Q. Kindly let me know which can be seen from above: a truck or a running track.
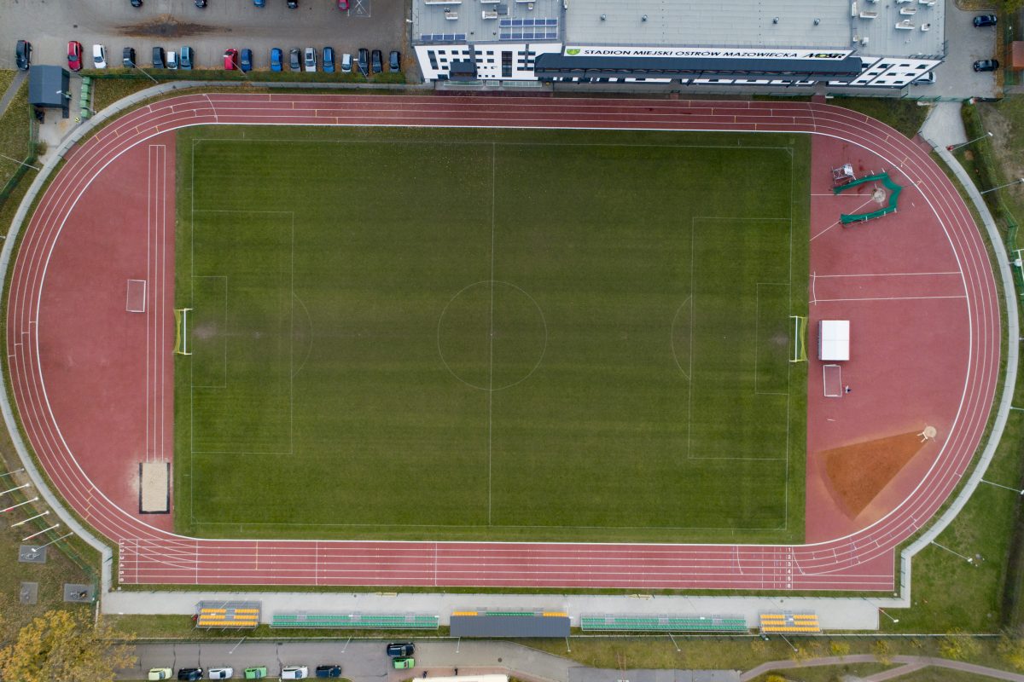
running track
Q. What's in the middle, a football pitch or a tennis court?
football pitch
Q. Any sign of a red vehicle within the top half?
Yes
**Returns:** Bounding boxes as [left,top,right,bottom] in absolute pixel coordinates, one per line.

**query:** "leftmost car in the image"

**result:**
[13,40,31,69]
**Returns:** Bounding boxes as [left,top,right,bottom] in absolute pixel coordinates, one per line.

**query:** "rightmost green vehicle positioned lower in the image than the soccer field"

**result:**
[393,658,415,672]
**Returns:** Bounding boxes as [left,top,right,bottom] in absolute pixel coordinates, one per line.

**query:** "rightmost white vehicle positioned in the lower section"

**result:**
[282,667,307,681]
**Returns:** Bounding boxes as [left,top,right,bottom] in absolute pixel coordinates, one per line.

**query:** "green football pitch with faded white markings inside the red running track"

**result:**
[172,123,811,545]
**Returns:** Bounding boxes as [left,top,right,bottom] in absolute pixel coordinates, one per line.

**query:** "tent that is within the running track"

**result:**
[812,321,850,360]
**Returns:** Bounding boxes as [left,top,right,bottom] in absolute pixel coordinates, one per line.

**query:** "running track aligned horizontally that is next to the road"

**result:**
[7,93,1001,590]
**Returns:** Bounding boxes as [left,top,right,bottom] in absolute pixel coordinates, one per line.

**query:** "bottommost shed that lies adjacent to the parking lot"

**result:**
[31,64,71,121]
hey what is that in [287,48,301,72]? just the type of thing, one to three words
car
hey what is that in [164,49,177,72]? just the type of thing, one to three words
vehicle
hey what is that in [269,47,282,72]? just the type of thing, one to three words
vehicle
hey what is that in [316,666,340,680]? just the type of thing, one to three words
car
